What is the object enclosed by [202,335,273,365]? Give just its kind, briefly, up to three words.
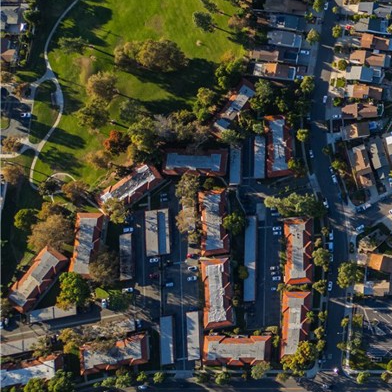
building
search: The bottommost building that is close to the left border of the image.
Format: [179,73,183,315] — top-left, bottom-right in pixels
[0,350,70,391]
